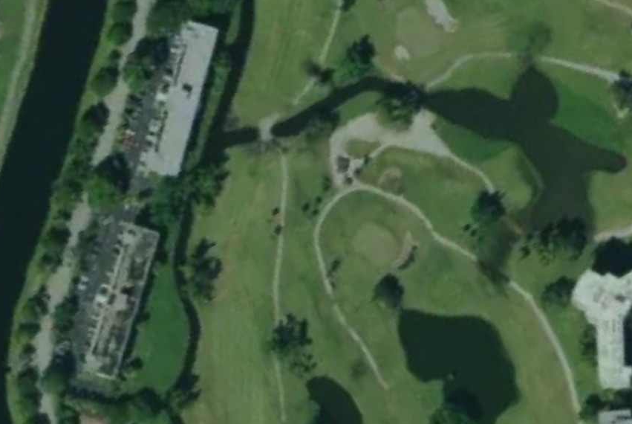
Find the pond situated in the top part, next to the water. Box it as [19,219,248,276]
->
[422,66,627,240]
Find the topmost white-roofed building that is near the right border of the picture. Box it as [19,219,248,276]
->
[569,261,632,388]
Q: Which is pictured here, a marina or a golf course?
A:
golf course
